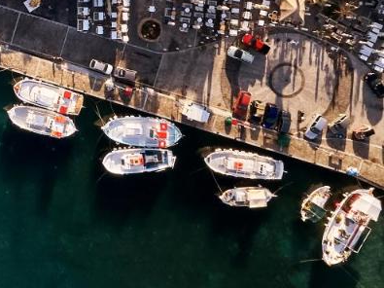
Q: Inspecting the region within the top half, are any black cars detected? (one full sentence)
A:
Yes, the scene does show a black car within the top half.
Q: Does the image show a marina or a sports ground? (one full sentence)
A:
The picture captures a marina.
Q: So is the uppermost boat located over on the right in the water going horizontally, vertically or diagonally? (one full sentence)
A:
I'd say the uppermost boat located over on the right in the water is aligned horizontally in the picture.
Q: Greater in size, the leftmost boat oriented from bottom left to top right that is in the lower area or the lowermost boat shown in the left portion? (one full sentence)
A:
Of the two, the lowermost boat shown in the left portion is larger and the leftmost boat oriented from bottom left to top right that is in the lower area is the smaller one.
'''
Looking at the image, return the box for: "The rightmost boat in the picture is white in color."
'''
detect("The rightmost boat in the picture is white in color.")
[316,178,384,267]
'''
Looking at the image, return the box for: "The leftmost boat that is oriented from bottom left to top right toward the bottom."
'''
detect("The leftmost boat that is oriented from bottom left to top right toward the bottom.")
[297,185,328,223]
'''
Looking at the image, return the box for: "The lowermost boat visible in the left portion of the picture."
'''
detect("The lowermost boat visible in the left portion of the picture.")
[97,149,180,179]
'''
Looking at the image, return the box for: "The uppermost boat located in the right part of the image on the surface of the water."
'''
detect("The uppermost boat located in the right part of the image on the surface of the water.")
[199,147,289,178]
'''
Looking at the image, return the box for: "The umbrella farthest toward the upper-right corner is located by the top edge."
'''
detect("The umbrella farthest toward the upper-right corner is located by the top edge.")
[276,0,304,23]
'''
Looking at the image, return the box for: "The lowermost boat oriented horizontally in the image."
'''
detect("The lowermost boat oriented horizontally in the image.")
[211,170,287,208]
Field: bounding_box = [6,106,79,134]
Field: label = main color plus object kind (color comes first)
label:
white boat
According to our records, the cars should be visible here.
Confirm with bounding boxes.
[360,71,384,101]
[224,45,255,64]
[327,112,351,138]
[230,89,250,121]
[113,65,139,81]
[259,102,280,130]
[239,33,272,56]
[303,112,328,141]
[88,58,114,77]
[246,98,264,127]
[276,110,292,134]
